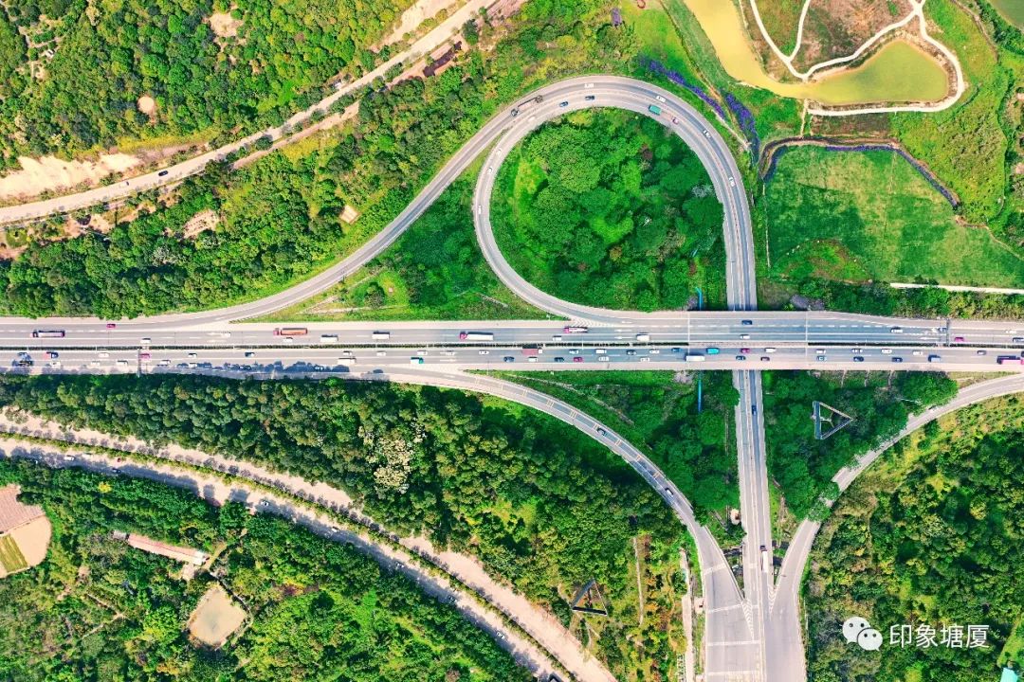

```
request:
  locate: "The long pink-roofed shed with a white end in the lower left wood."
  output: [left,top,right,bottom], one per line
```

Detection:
[128,530,208,564]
